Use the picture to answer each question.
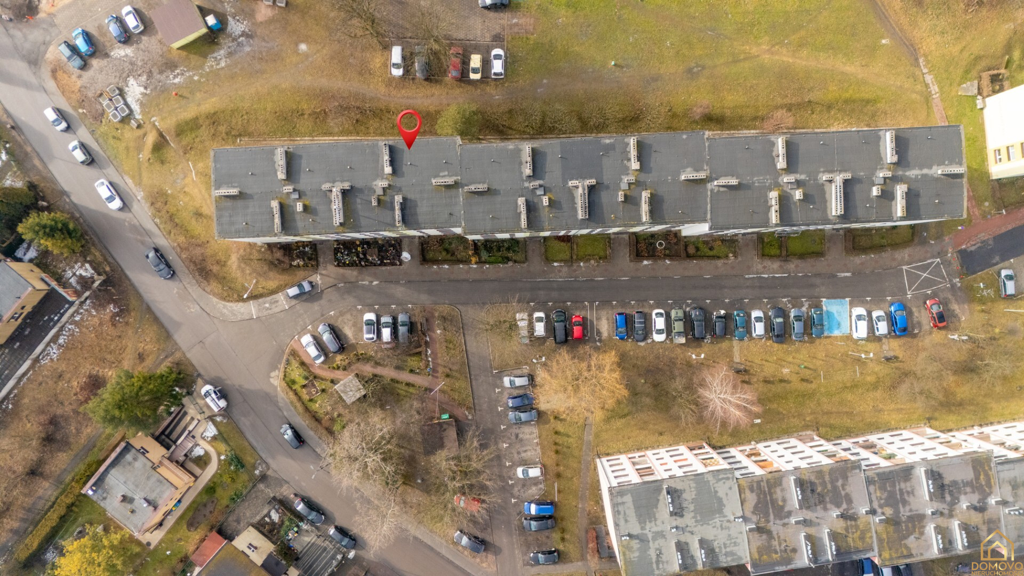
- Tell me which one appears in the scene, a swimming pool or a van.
van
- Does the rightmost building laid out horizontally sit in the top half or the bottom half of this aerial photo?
bottom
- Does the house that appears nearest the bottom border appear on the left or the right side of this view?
left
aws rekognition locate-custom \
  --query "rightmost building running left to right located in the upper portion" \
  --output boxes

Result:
[212,125,966,248]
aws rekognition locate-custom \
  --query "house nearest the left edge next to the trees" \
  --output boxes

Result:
[0,260,53,335]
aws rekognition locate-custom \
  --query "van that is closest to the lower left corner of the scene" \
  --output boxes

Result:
[200,383,229,415]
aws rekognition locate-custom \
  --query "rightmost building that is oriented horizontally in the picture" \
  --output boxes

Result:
[595,421,1024,576]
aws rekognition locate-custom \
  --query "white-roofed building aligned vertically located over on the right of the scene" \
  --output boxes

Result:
[982,84,1024,179]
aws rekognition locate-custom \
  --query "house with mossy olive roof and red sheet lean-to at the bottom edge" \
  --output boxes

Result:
[192,519,305,576]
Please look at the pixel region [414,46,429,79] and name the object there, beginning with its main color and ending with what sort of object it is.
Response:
gray car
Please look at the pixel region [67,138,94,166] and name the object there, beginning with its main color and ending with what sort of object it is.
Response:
white car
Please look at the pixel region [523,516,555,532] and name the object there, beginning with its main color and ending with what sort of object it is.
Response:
gray car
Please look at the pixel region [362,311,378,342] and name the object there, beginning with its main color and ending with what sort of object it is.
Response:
white car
